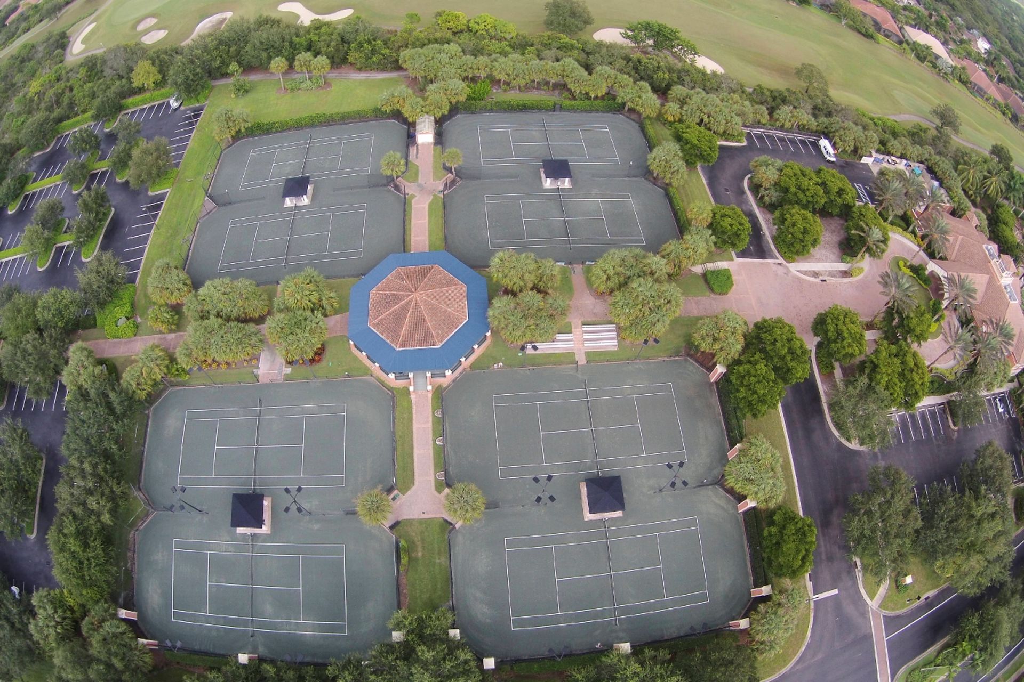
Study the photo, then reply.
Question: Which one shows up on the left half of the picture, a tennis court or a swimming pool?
tennis court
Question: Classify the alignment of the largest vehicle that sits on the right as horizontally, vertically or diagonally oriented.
diagonally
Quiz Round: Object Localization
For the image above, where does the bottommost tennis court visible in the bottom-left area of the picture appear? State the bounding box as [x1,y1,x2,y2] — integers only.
[133,512,400,663]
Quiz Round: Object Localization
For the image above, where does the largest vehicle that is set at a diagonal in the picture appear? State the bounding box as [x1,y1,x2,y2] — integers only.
[818,134,838,158]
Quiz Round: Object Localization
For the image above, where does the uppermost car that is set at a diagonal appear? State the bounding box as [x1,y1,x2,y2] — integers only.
[168,94,181,109]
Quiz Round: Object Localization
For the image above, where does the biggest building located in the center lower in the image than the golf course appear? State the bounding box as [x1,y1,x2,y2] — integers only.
[346,251,495,397]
